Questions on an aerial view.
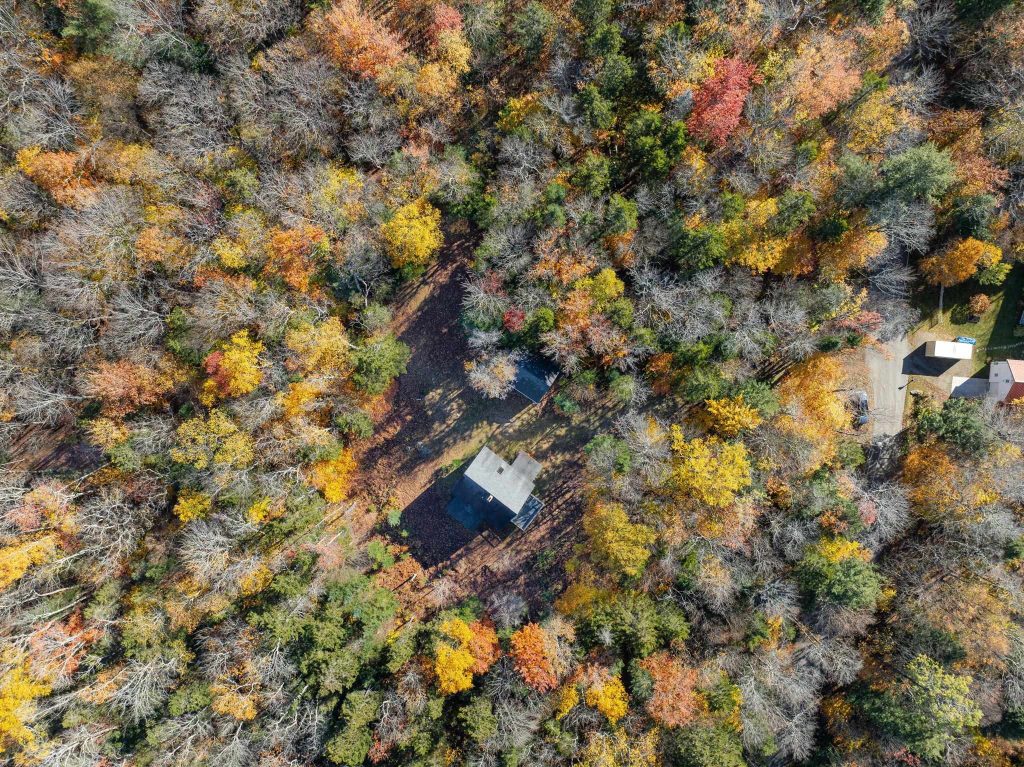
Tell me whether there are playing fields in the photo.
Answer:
No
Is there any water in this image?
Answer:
No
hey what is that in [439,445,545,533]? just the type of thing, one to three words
house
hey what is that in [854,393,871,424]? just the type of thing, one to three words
car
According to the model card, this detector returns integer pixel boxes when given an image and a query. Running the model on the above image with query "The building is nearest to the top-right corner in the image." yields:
[989,359,1024,403]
